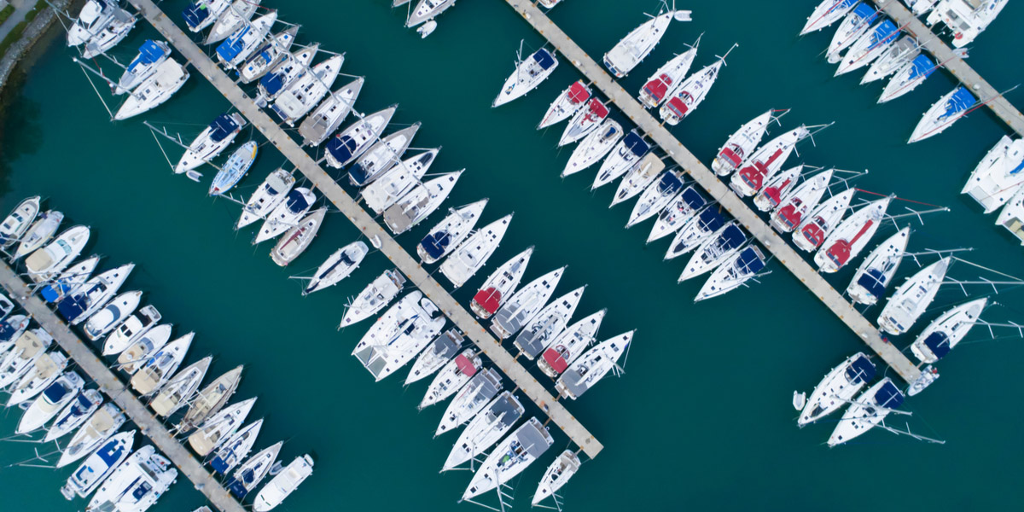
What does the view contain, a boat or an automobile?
boat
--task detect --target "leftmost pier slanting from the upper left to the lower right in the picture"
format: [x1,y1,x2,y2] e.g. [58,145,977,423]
[0,257,251,512]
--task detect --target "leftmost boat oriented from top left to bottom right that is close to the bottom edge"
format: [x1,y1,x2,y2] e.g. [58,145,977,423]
[62,486,77,501]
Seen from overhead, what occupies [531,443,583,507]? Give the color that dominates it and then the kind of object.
white boat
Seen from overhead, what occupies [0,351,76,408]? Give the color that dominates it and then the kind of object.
white boat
